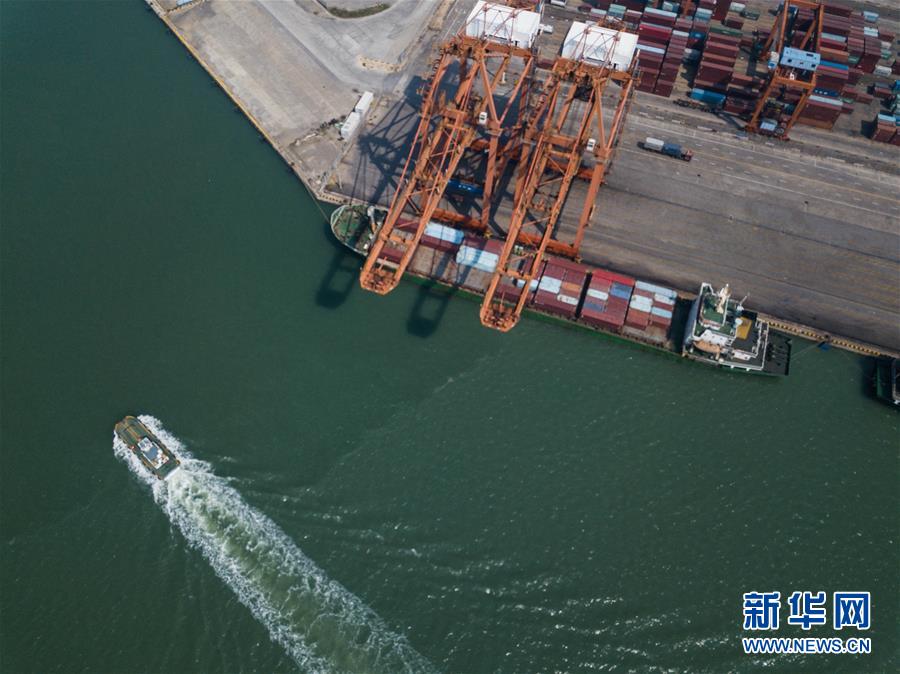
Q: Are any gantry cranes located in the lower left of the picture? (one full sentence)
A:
No, no gantry crane is visible in the lower left of the picture.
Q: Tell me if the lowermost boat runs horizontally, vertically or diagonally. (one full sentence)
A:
Seen from above, the lowermost boat lies diagonally.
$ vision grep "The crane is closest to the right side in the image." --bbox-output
[748,0,829,138]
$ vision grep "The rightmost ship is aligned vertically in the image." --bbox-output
[869,353,900,419]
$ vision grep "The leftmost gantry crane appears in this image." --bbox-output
[368,0,546,292]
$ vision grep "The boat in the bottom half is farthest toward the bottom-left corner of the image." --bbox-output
[113,416,180,480]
